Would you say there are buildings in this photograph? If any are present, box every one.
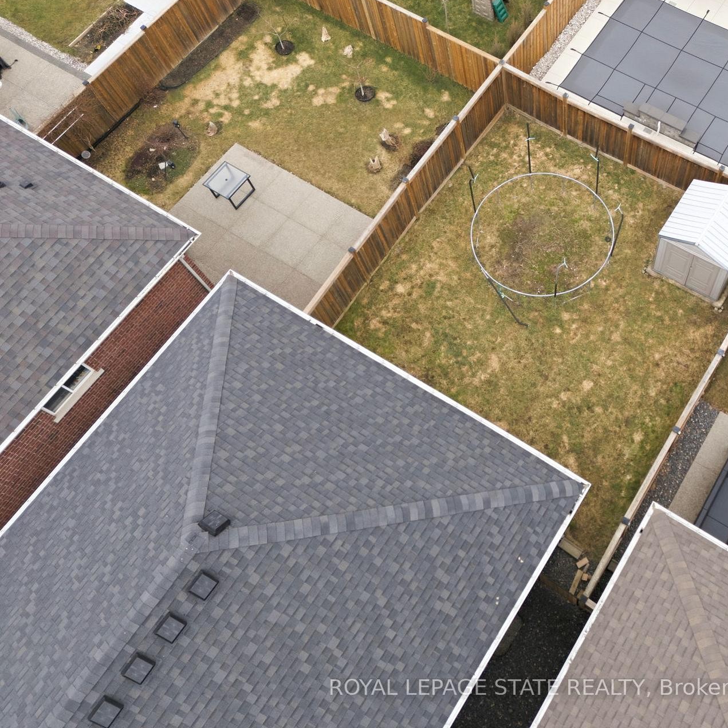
[529,501,728,728]
[0,271,588,728]
[654,178,728,301]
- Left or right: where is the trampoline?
right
